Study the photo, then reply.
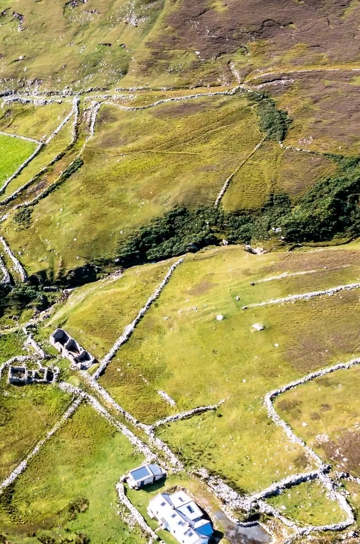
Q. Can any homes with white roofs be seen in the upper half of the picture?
No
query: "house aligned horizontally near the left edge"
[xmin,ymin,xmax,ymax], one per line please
[8,364,57,383]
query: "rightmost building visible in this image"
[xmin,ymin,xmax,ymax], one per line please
[148,486,219,544]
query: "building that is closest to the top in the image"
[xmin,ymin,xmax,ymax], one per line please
[49,325,95,371]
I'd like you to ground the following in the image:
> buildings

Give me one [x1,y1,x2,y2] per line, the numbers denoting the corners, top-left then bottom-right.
[130,465,165,488]
[148,486,219,544]
[49,325,95,371]
[8,364,57,383]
